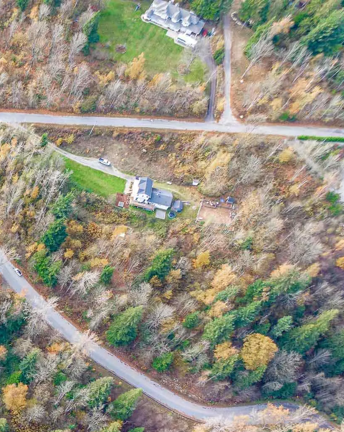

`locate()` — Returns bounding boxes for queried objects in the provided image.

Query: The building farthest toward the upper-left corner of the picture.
[137,0,206,36]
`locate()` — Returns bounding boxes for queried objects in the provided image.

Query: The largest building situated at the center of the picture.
[130,171,177,211]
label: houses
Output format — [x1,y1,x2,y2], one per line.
[130,171,177,211]
[137,0,206,36]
